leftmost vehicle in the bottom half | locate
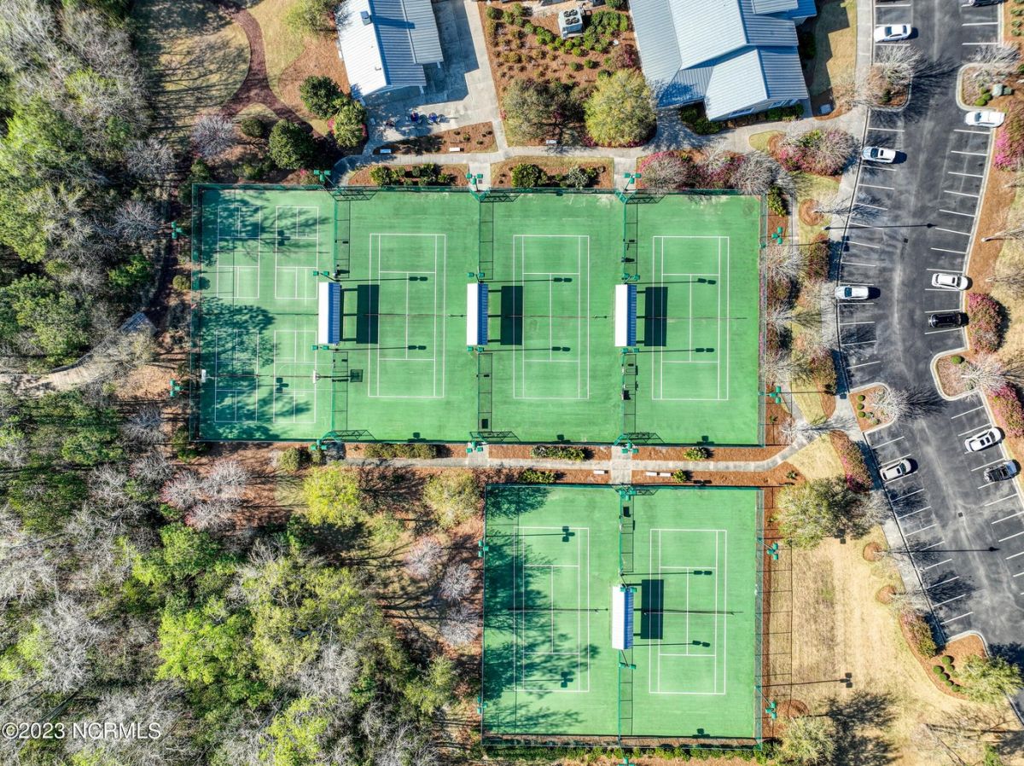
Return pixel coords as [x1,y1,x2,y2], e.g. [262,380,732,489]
[876,458,911,481]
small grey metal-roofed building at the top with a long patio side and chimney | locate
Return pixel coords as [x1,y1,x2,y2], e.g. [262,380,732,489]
[330,0,444,107]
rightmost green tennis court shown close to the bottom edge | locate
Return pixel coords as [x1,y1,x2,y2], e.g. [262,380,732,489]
[619,488,757,738]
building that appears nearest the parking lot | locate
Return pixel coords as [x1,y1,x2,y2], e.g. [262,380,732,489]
[631,0,816,125]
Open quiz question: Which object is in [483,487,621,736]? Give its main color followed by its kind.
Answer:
green tennis court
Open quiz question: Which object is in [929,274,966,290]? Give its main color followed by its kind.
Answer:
white car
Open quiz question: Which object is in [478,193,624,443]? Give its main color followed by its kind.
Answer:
green tennis court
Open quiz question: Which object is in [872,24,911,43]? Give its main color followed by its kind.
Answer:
white car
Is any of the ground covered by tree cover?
Yes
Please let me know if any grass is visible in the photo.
Yes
